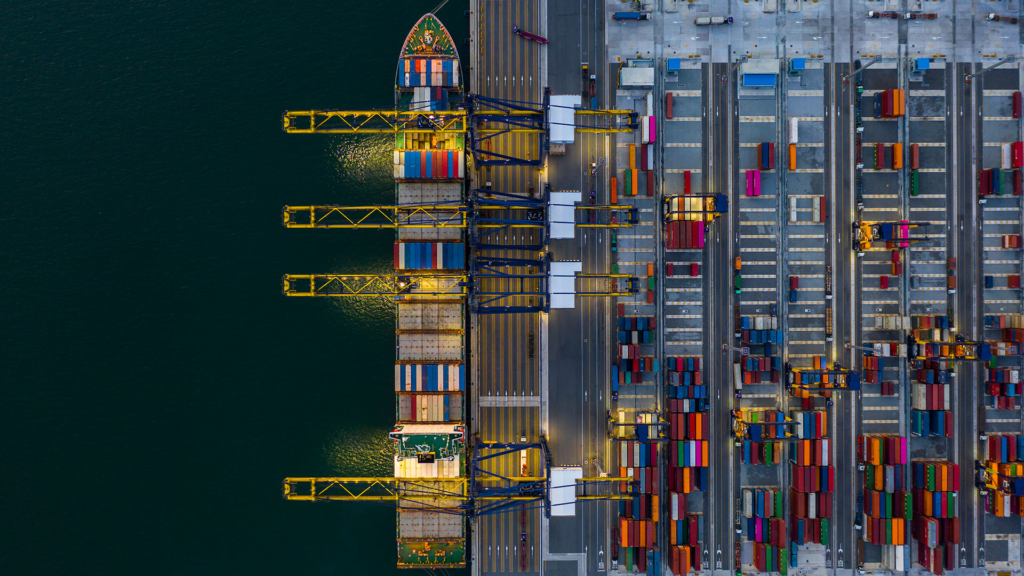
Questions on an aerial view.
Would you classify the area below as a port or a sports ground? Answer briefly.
port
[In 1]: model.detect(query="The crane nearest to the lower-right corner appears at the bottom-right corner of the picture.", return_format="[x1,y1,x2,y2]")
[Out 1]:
[977,458,1024,496]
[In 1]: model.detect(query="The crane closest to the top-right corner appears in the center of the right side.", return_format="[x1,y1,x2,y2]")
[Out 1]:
[853,219,934,251]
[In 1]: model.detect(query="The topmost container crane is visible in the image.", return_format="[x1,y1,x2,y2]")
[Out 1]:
[279,88,639,178]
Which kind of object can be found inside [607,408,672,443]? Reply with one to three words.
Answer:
crane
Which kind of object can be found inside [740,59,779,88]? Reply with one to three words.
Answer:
building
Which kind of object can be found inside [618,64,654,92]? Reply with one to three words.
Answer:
building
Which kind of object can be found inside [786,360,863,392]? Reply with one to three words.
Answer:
crane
